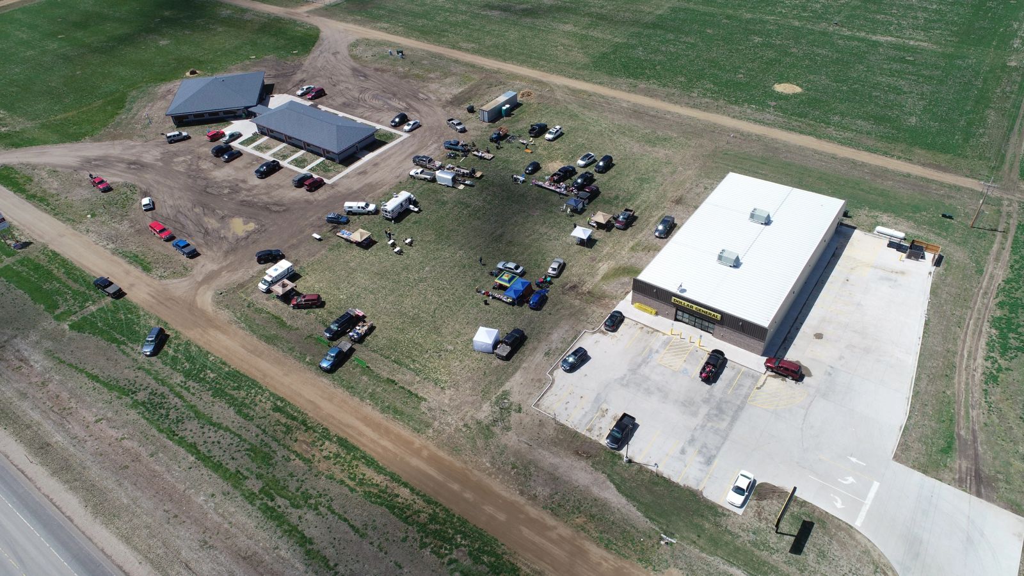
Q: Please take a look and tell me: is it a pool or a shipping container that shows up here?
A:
shipping container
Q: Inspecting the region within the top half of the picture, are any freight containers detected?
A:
Yes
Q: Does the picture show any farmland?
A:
Yes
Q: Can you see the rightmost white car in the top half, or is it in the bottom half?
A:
bottom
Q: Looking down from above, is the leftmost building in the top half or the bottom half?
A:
top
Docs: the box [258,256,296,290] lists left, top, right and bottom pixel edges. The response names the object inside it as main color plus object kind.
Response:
white van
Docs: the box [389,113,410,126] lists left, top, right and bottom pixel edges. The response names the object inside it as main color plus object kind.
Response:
black vehicle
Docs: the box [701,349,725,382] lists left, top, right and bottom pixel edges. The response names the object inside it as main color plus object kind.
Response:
black truck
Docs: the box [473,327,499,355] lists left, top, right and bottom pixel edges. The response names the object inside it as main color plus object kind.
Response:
white tent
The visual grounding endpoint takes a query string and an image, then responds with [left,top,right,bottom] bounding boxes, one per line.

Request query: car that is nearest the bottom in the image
[727,469,757,508]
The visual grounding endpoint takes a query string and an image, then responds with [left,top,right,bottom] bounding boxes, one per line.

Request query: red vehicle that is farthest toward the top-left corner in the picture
[87,176,110,191]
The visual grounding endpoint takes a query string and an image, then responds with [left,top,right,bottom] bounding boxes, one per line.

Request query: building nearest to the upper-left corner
[166,72,263,125]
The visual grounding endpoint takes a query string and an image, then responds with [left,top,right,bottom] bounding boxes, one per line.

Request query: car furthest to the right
[763,359,805,379]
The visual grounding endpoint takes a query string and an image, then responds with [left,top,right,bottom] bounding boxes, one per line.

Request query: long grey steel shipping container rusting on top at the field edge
[479,92,518,122]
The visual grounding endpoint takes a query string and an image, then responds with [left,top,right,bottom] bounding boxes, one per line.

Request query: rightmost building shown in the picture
[633,171,852,355]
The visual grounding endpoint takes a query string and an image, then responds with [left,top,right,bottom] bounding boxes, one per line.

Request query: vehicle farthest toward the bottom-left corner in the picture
[141,326,165,355]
